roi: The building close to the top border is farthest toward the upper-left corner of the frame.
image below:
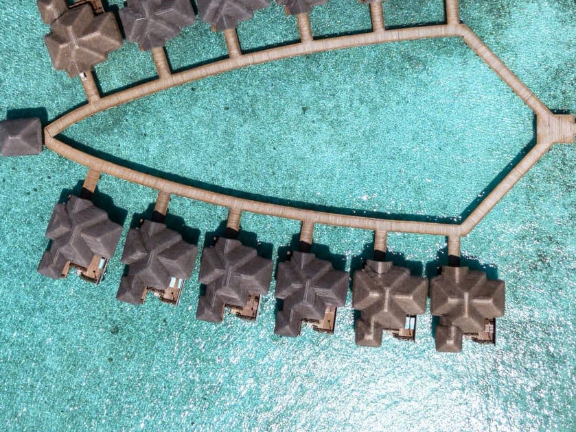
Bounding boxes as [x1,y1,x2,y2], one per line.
[33,0,123,80]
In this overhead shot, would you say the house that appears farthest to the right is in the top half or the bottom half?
bottom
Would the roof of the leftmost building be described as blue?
No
